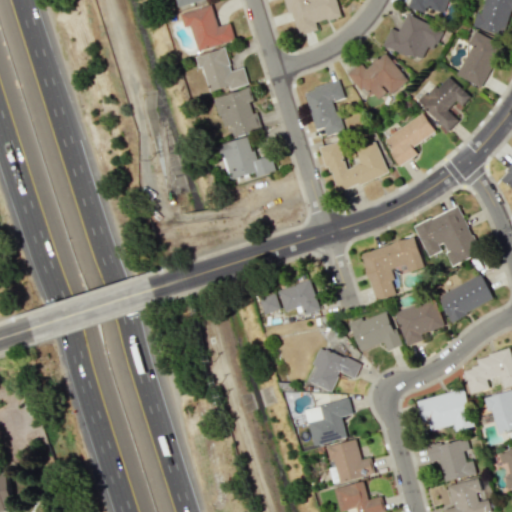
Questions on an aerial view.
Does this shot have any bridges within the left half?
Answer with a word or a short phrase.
Yes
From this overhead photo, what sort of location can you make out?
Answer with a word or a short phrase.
residential area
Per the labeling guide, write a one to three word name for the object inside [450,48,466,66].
swimming pool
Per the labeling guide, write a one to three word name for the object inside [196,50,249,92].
house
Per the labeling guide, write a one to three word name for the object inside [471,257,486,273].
camper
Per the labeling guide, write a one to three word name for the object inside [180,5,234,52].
house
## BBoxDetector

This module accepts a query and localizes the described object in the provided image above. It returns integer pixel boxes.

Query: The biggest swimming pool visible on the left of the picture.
[177,28,192,48]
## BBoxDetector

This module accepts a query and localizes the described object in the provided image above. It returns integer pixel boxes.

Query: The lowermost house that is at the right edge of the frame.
[438,478,490,512]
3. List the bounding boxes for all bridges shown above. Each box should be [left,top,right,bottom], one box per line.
[23,273,154,347]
